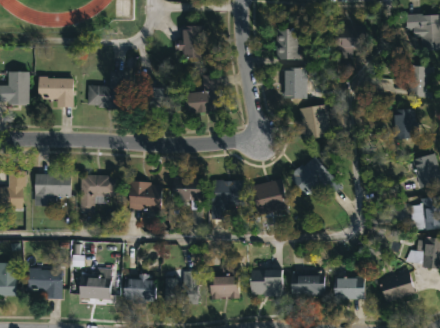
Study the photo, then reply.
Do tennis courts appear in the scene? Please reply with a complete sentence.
No, I find no tennis court anywhere in the image.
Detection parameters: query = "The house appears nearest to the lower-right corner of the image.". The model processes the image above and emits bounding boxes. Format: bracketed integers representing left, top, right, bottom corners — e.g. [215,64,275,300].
[380,271,418,303]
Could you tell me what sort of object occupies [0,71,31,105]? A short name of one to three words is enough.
house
